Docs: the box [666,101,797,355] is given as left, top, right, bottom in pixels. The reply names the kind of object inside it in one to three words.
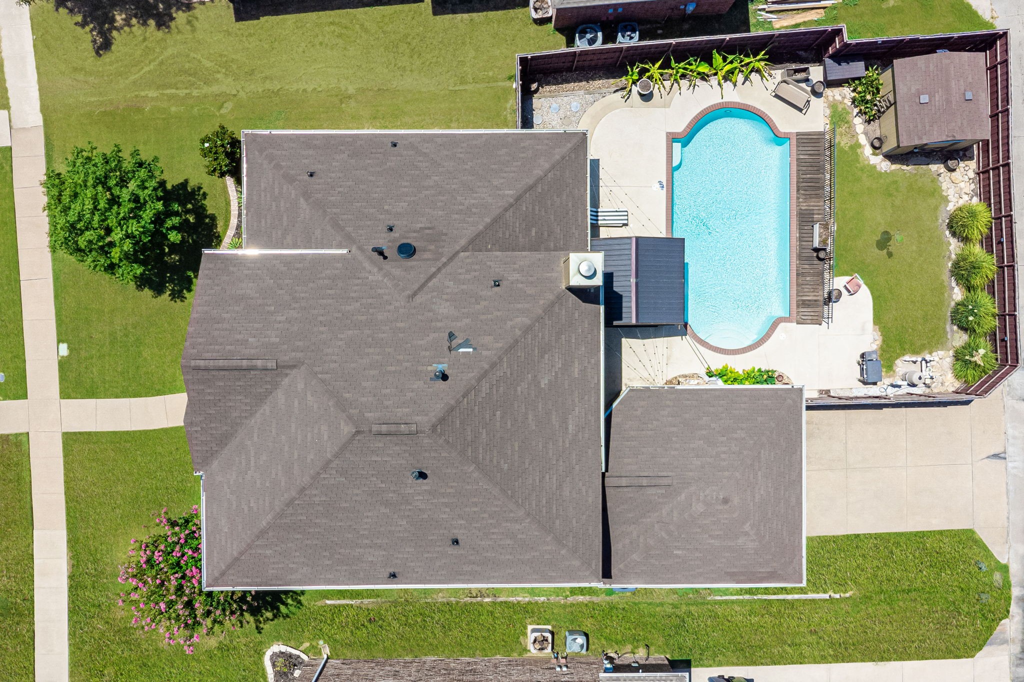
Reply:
swimming pool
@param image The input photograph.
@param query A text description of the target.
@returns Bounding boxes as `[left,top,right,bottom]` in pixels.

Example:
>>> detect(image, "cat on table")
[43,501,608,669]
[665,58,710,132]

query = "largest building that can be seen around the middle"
[181,129,808,588]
